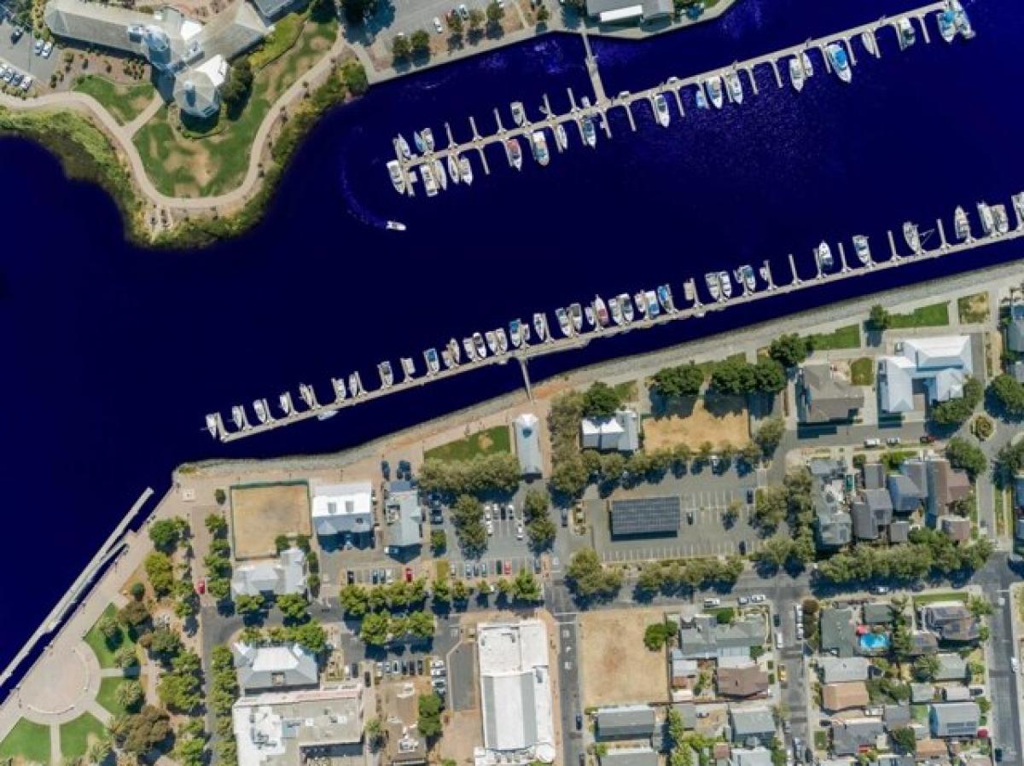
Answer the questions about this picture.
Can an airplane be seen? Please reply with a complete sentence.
No, this view has no airplane in it.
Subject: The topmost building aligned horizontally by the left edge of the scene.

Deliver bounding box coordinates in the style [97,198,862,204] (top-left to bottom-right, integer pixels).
[44,0,278,72]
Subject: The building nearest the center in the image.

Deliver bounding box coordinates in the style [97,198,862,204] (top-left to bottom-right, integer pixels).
[515,413,541,475]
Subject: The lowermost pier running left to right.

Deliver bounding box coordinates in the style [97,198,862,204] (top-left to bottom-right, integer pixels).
[216,196,1024,442]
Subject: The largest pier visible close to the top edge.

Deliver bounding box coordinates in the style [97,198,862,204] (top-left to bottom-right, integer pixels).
[393,1,957,195]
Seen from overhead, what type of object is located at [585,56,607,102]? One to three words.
pier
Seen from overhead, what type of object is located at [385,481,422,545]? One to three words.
building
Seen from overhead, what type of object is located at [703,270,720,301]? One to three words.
boat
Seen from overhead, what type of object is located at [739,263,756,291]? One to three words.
boat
